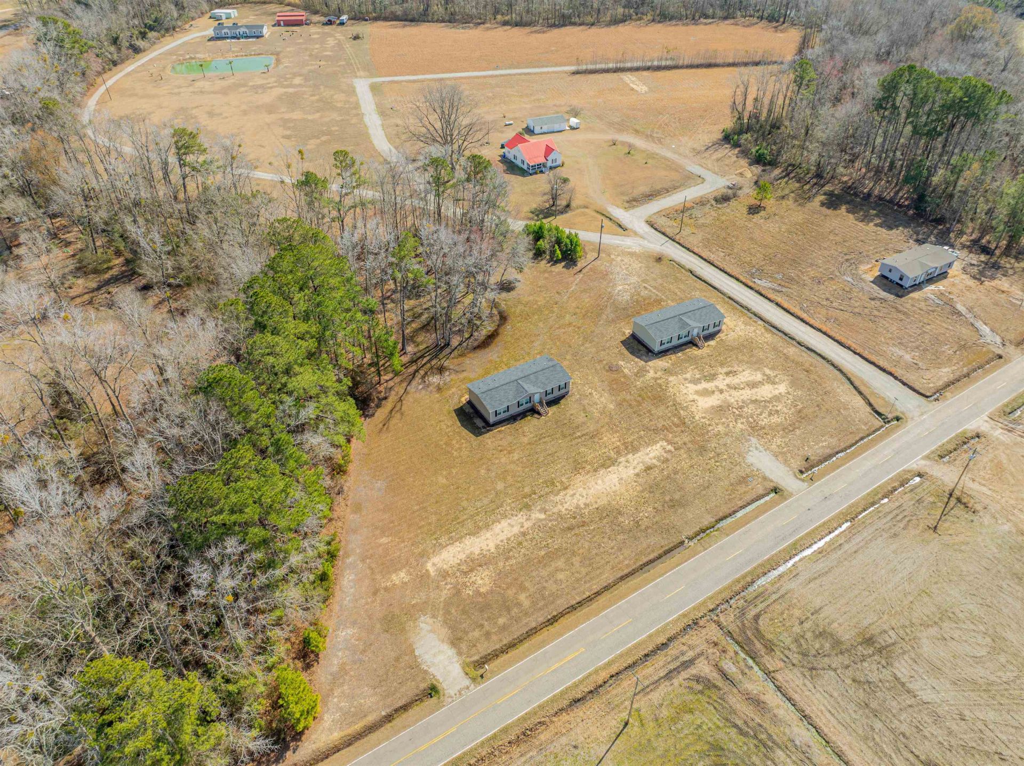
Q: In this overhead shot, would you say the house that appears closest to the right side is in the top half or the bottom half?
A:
top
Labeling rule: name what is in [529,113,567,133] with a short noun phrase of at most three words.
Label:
shed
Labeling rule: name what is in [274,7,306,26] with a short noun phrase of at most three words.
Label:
barn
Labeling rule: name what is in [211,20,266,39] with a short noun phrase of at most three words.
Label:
house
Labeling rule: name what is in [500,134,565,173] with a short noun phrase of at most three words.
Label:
house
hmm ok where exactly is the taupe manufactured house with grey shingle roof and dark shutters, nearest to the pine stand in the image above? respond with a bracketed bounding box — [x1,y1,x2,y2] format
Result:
[467,357,572,424]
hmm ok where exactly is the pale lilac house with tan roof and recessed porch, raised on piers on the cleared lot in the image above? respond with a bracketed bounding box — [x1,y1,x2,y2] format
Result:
[878,244,958,287]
